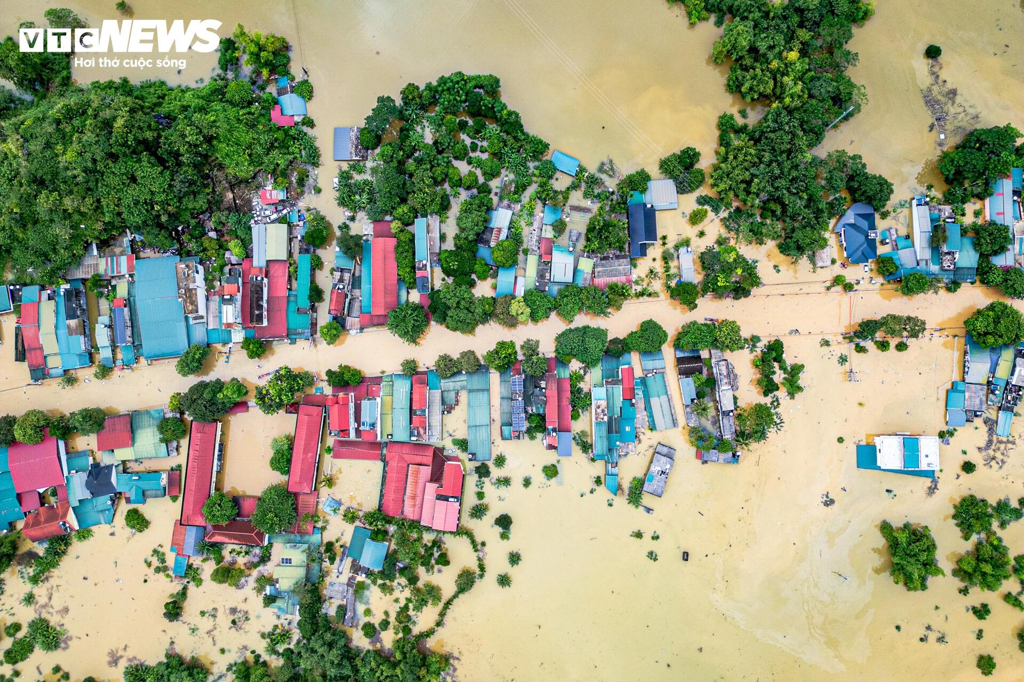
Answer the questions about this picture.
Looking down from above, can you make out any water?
Yes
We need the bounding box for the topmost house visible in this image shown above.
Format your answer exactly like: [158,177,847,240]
[271,76,309,128]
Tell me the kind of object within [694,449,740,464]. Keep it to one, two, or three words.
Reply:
shed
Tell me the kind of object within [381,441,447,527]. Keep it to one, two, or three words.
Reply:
building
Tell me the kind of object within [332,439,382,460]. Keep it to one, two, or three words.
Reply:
shed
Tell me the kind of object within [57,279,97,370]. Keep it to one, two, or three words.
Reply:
house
